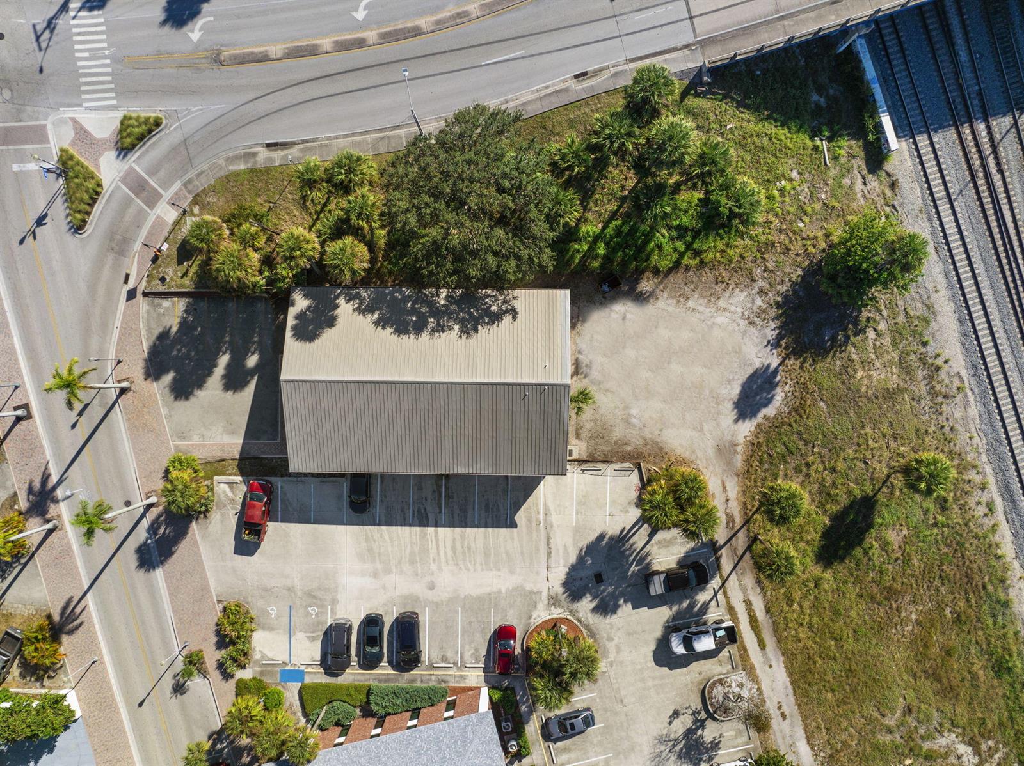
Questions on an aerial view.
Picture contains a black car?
Yes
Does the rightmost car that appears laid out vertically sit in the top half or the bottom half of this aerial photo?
bottom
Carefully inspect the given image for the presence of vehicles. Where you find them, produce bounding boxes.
[642,562,709,595]
[493,623,517,675]
[0,624,29,689]
[327,617,353,670]
[543,708,596,740]
[668,621,738,653]
[240,479,273,544]
[395,610,421,667]
[360,612,385,666]
[347,476,372,514]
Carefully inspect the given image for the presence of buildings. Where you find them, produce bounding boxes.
[276,286,572,476]
[205,686,511,766]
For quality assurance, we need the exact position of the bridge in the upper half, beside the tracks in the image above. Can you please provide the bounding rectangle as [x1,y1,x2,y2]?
[686,0,948,82]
